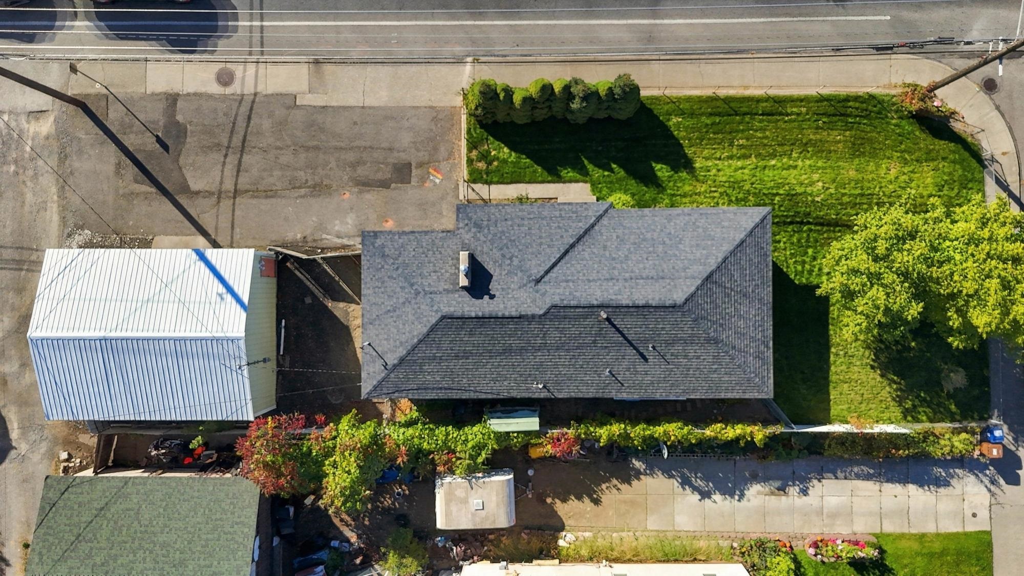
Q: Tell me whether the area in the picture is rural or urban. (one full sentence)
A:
The area shown here is urban.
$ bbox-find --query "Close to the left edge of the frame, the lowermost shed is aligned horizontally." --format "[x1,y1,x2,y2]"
[25,465,278,576]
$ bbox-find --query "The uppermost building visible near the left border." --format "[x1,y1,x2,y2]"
[24,249,277,438]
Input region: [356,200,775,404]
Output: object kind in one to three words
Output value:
house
